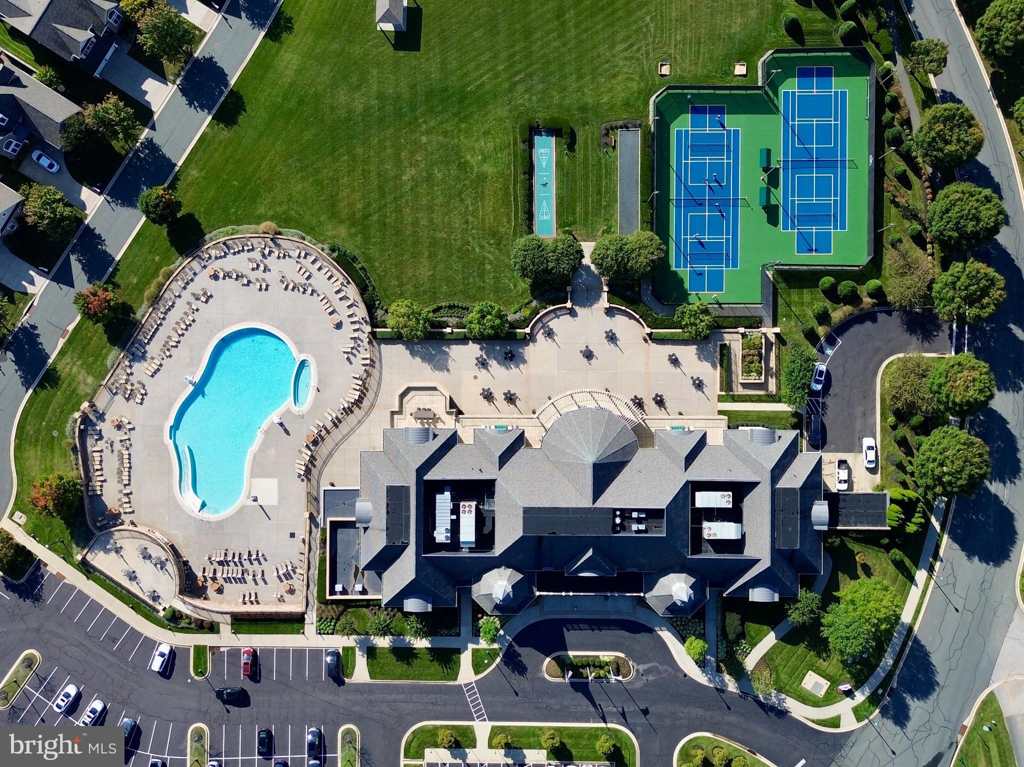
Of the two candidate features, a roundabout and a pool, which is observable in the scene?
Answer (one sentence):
There is a pool in the scene.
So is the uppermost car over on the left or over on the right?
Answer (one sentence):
The uppermost car is on the left side of the image.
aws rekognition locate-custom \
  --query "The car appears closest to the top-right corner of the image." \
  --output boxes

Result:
[810,362,827,392]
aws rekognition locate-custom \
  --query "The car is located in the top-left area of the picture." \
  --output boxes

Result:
[32,149,61,174]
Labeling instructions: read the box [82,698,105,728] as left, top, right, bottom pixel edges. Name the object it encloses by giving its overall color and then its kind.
white car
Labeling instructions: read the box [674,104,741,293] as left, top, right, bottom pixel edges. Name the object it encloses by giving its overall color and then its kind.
blue tennis court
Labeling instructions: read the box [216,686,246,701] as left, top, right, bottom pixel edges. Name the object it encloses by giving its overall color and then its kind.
black car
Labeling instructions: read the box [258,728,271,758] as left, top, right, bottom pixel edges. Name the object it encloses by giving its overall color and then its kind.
black vehicle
